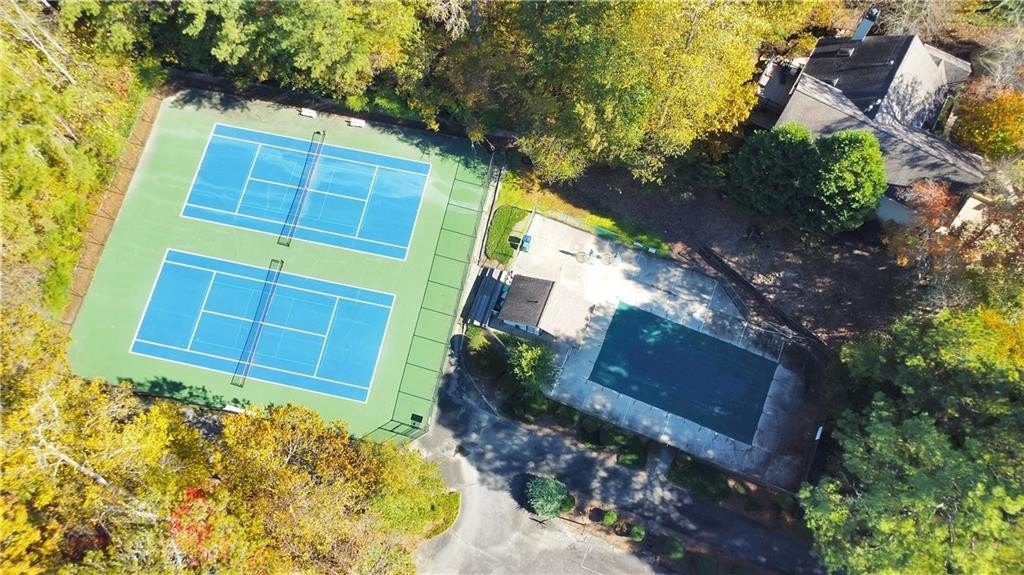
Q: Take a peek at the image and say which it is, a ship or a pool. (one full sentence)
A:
The image shows a pool.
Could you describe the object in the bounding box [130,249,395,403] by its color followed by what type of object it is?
blue tennis court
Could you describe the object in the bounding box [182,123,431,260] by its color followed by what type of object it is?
blue tennis court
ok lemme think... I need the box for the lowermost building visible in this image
[499,277,591,349]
